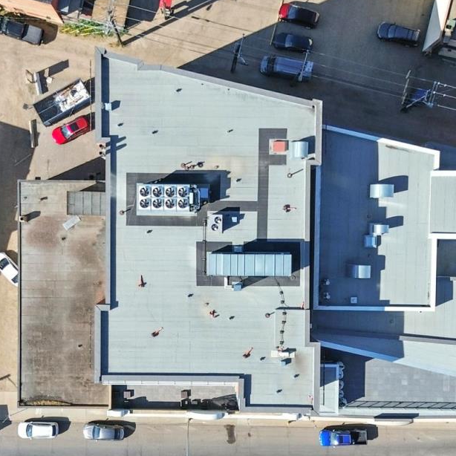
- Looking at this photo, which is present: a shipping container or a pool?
shipping container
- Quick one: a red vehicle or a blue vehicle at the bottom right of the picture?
blue vehicle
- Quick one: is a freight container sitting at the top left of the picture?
Yes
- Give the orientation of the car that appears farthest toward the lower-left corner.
from left to right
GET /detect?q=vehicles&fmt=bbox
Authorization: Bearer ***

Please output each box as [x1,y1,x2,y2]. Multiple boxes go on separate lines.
[319,428,368,449]
[0,252,19,291]
[278,5,320,27]
[377,22,421,45]
[85,422,125,442]
[273,31,313,53]
[52,115,91,144]
[19,420,59,441]
[0,15,44,44]
[261,53,313,79]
